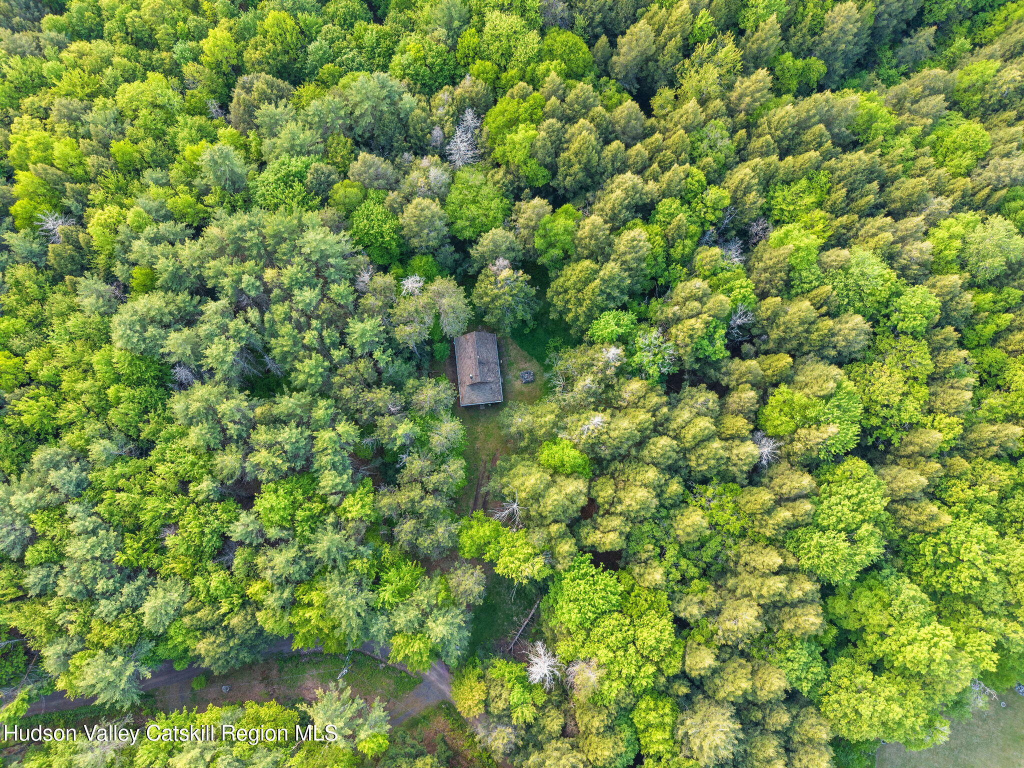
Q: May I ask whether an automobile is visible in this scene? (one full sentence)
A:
No, there appears to be no automobile in this shot.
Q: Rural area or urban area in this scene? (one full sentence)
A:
The land in this view is best described as rural.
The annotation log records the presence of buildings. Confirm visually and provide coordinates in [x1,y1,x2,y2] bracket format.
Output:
[454,332,503,408]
